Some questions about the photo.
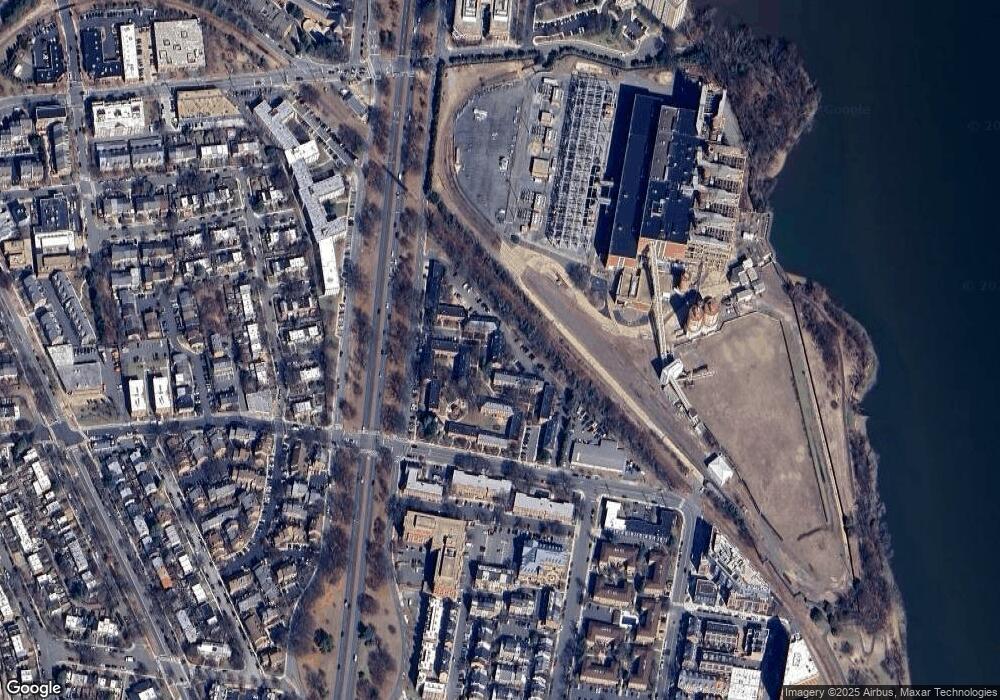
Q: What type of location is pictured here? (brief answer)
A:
residential area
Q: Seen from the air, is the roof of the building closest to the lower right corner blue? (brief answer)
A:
No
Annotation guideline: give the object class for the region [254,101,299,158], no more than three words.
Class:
building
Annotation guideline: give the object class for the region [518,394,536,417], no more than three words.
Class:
house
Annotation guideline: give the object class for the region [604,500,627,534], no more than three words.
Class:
building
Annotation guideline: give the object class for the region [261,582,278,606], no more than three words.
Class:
house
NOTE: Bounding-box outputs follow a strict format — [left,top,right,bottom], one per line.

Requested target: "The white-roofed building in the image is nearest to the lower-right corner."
[782,635,824,700]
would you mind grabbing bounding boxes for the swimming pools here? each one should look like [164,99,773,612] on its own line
[620,614,638,629]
